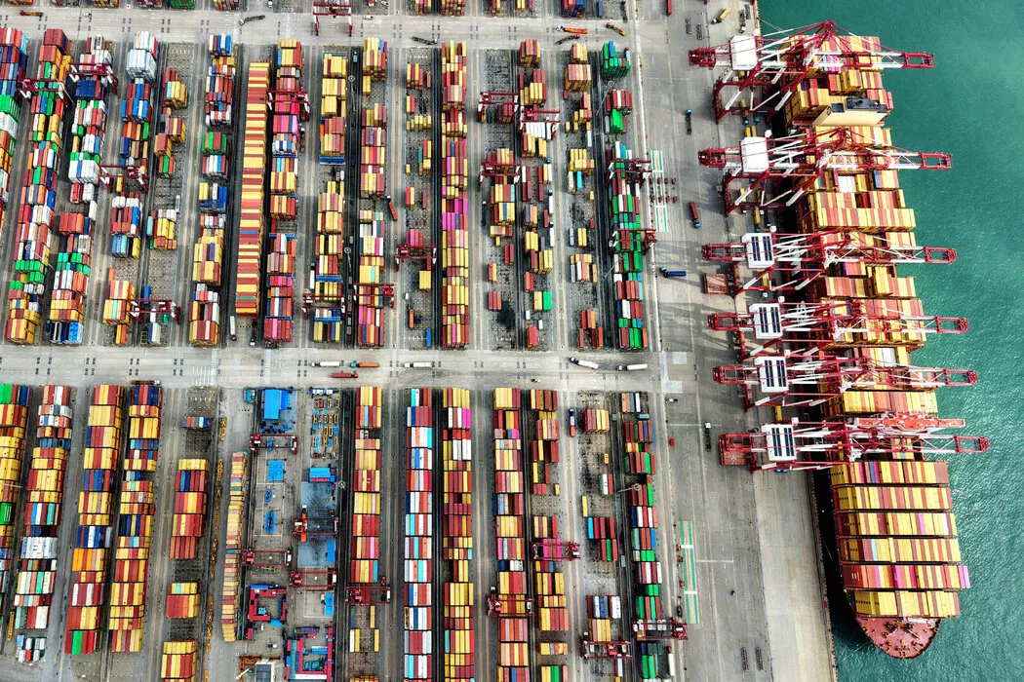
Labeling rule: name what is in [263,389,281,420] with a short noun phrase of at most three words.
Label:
shed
